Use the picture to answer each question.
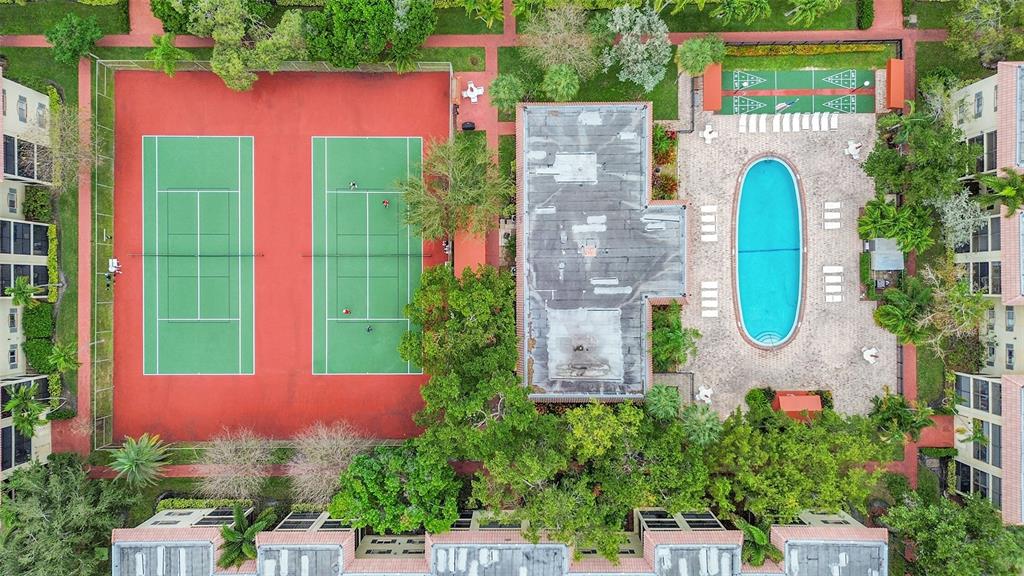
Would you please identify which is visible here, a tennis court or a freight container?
tennis court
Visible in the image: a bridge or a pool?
pool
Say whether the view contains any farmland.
No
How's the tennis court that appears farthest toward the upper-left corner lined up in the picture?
vertically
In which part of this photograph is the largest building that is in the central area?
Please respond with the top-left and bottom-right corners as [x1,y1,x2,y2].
[516,103,690,402]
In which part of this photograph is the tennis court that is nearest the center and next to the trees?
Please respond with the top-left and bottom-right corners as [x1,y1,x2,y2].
[312,136,422,375]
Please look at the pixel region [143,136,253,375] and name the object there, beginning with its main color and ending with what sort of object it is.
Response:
green tennis court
